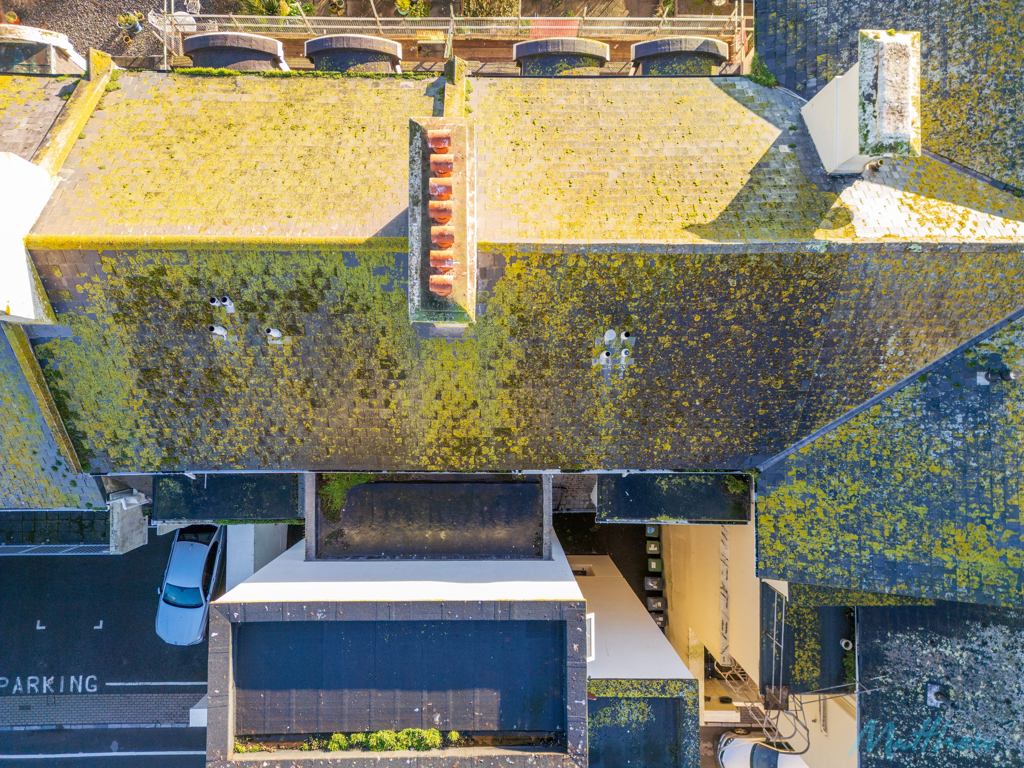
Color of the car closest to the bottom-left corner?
blue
